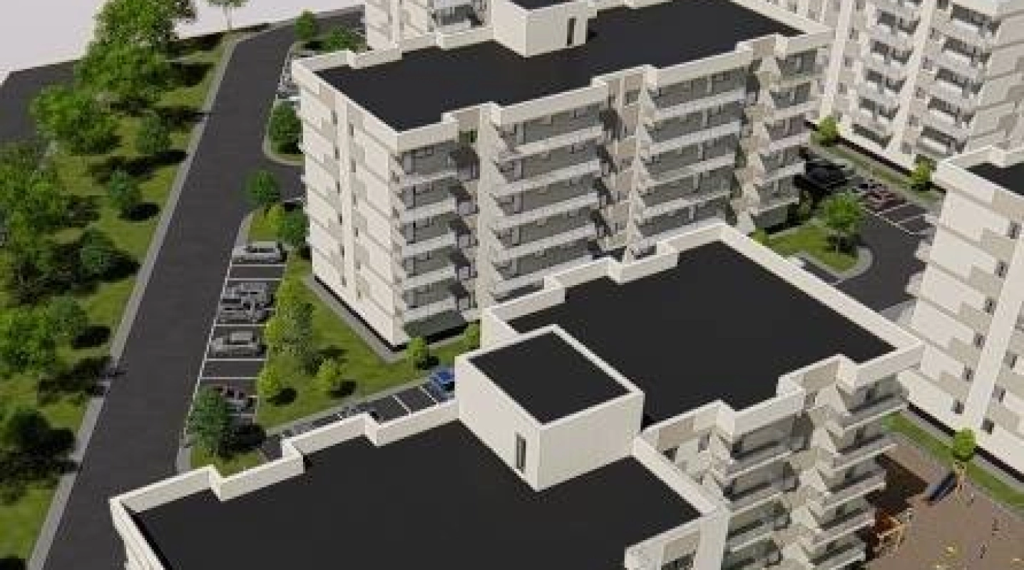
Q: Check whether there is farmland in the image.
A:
No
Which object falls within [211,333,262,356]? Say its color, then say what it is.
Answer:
gray car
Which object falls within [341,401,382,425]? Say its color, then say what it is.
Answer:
gray car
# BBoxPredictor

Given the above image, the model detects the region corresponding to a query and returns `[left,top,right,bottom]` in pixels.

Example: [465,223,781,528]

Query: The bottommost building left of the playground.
[109,222,926,570]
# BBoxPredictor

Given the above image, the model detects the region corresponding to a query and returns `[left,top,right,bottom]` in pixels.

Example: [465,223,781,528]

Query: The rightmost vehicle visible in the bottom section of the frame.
[427,374,460,404]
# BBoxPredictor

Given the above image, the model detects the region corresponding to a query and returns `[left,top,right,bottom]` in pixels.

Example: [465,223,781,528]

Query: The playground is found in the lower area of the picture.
[850,442,1024,570]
